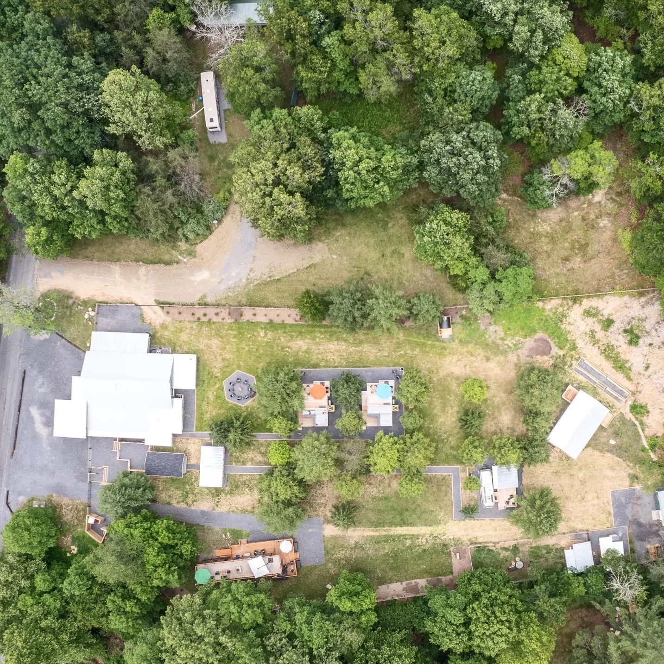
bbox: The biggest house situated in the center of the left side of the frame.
[53,331,199,447]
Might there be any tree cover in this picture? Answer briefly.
Yes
